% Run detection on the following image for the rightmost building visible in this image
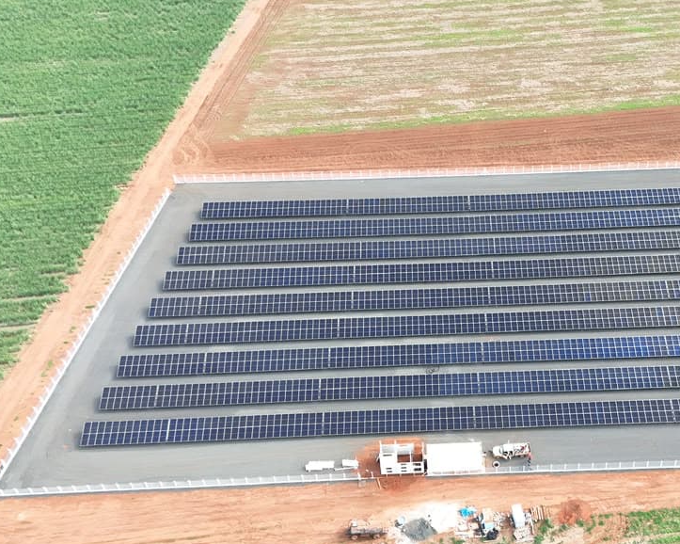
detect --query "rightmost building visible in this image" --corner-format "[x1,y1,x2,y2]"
[426,440,484,473]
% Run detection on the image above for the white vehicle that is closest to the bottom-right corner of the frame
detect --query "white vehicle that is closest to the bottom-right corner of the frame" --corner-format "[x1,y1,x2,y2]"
[511,509,528,537]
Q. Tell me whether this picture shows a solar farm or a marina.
solar farm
